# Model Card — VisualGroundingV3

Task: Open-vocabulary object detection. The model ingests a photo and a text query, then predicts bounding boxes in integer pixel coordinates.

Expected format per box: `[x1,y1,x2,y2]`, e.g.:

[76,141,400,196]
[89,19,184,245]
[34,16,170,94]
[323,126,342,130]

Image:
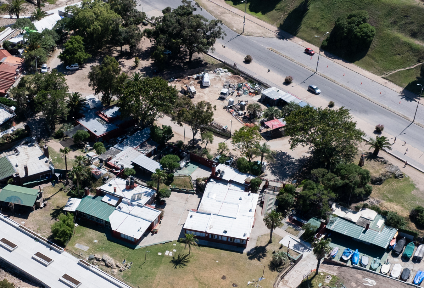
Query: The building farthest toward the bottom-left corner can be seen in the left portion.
[0,186,49,217]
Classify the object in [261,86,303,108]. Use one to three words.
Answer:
shed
